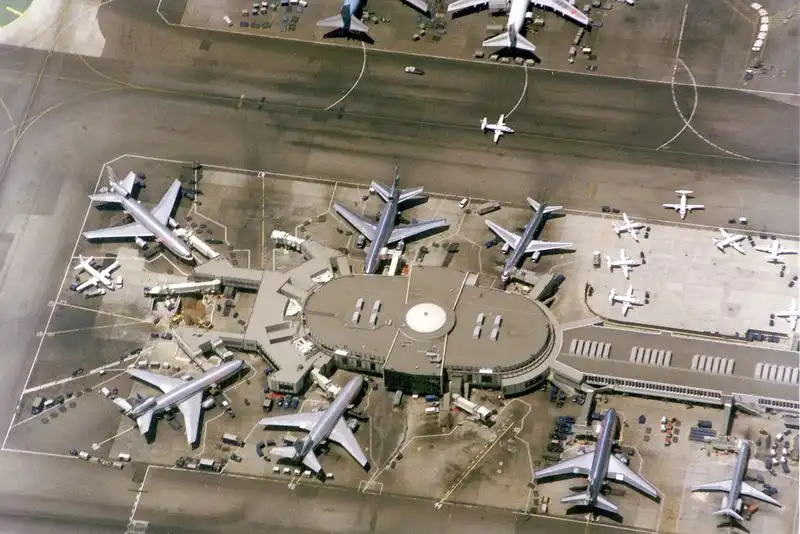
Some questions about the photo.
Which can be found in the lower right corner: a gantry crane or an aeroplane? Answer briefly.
aeroplane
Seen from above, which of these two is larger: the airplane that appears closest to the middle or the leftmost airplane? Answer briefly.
the airplane that appears closest to the middle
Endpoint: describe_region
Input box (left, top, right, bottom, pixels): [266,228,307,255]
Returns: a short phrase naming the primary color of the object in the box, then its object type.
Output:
white jet bridge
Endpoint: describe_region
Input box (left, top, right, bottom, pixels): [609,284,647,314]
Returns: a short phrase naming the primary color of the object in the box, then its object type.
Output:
white airplane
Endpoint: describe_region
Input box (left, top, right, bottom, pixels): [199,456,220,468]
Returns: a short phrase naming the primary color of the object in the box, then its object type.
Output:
white vehicle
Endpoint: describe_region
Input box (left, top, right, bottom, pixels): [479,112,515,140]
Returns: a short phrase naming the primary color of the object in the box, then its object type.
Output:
white airplane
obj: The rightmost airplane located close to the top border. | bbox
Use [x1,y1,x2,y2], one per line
[449,0,588,50]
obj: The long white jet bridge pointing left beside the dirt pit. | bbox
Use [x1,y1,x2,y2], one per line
[148,276,224,300]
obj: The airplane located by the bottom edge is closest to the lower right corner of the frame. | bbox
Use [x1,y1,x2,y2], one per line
[694,445,780,525]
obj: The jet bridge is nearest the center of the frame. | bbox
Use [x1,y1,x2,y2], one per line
[386,249,402,275]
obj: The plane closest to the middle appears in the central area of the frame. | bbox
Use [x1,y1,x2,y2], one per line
[335,175,450,276]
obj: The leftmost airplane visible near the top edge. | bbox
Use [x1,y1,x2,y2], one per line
[319,0,370,30]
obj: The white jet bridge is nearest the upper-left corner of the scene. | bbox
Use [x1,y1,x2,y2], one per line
[173,224,221,260]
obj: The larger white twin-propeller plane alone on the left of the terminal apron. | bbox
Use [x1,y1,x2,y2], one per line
[73,256,121,291]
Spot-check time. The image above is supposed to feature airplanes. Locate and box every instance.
[319,0,370,30]
[694,445,780,525]
[711,227,747,255]
[479,112,515,140]
[609,212,647,241]
[449,0,588,50]
[335,175,450,276]
[111,365,242,447]
[606,248,644,278]
[77,166,191,262]
[662,186,705,220]
[258,380,366,472]
[73,256,121,291]
[754,240,797,265]
[484,193,574,285]
[609,284,647,314]
[534,413,659,517]
[772,301,800,328]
